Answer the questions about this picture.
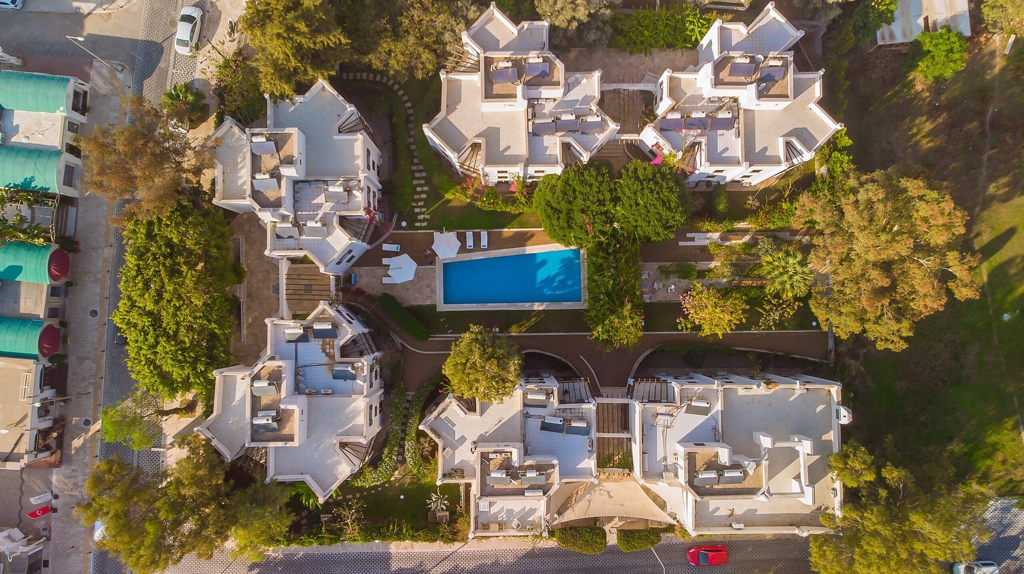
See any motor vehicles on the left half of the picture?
Yes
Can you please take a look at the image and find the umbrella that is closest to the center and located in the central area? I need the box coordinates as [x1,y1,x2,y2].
[432,225,462,260]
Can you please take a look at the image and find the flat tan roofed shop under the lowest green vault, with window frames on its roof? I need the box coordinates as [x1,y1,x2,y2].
[0,354,63,464]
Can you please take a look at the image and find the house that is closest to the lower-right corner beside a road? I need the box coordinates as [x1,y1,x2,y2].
[622,363,855,537]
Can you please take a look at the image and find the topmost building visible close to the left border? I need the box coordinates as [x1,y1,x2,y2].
[0,71,92,123]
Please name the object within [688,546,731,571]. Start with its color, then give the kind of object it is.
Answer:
red car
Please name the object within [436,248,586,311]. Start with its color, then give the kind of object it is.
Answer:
blue swimming pool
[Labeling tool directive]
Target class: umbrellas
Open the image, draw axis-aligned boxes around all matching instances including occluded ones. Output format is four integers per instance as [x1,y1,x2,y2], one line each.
[432,225,462,260]
[388,255,418,284]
